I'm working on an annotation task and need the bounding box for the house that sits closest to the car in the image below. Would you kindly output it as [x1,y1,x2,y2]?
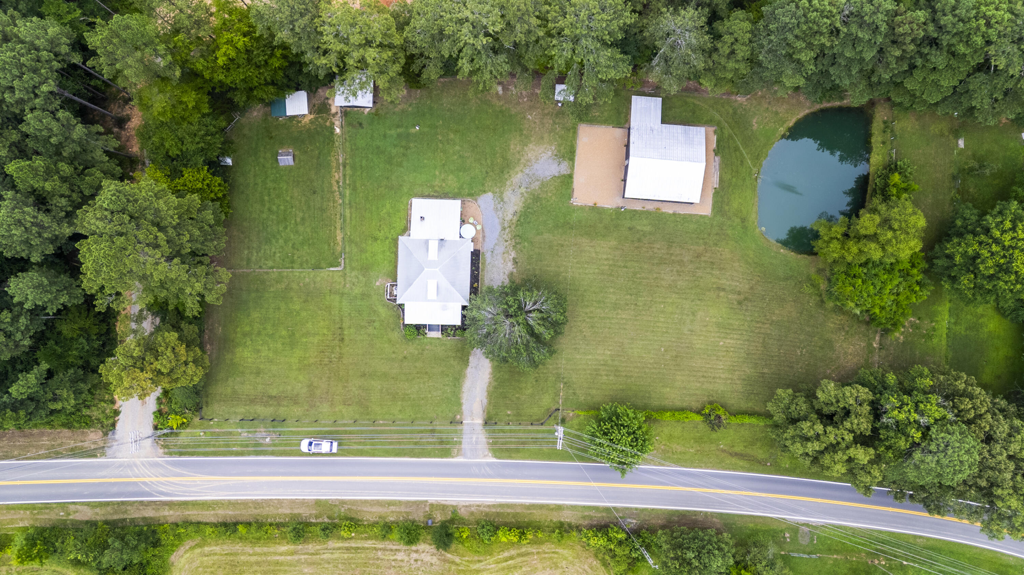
[396,198,474,332]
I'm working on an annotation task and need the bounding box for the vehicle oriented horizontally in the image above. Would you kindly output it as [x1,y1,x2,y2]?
[301,438,338,456]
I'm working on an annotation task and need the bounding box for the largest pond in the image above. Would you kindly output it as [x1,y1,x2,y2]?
[756,106,871,255]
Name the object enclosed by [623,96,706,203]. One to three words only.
barn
